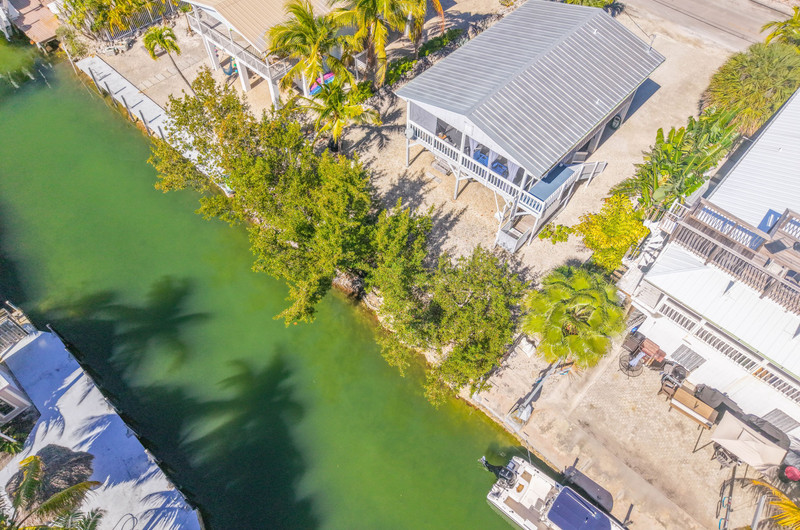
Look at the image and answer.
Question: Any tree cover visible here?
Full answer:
Yes, there's tree cover in this view.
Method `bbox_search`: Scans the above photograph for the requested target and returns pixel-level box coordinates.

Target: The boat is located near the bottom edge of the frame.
[470,450,609,530]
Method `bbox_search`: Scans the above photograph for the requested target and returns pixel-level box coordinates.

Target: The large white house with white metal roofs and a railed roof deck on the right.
[617,82,800,451]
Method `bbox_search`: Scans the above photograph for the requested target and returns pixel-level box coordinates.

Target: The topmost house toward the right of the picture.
[393,0,663,255]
